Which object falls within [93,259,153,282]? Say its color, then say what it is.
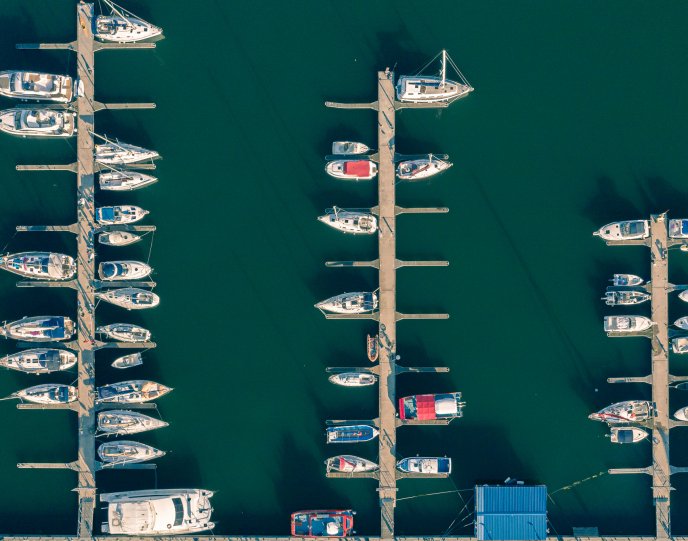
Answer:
white boat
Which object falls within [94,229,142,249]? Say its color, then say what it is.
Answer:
white boat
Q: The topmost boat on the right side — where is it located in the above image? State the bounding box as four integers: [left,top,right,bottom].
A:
[394,50,474,105]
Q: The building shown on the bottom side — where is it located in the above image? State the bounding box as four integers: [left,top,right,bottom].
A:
[470,476,548,541]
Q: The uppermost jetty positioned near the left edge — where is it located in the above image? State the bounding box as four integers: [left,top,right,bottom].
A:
[15,3,157,508]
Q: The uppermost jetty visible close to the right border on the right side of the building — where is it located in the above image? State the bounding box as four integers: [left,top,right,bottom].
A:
[605,214,688,508]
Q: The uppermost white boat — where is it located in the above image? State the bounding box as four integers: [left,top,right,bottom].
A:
[93,0,163,44]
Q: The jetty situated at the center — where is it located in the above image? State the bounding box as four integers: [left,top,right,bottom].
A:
[325,71,450,508]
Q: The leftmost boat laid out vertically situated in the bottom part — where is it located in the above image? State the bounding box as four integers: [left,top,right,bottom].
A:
[367,335,379,362]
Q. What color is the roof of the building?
blue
